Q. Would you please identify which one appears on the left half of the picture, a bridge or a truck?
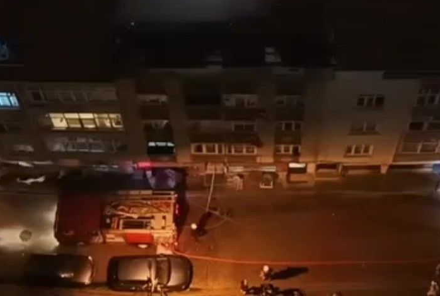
truck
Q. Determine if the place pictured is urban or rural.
urban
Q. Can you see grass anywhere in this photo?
No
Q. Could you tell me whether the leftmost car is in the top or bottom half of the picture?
bottom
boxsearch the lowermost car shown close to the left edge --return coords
[21,251,102,295]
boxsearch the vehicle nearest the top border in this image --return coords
[56,192,189,258]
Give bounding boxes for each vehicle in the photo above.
[56,192,189,258]
[104,253,193,296]
[21,251,102,295]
